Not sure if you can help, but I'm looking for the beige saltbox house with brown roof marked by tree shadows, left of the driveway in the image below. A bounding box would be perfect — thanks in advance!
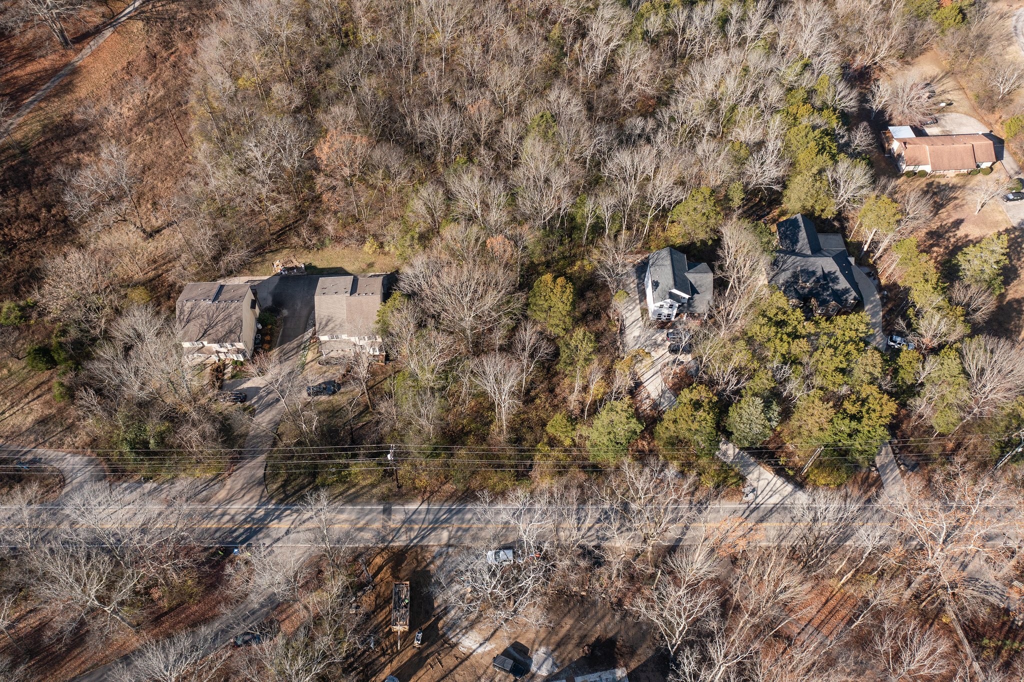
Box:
[175,277,269,373]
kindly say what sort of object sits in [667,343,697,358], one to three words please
car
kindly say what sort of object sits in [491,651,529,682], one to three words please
car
